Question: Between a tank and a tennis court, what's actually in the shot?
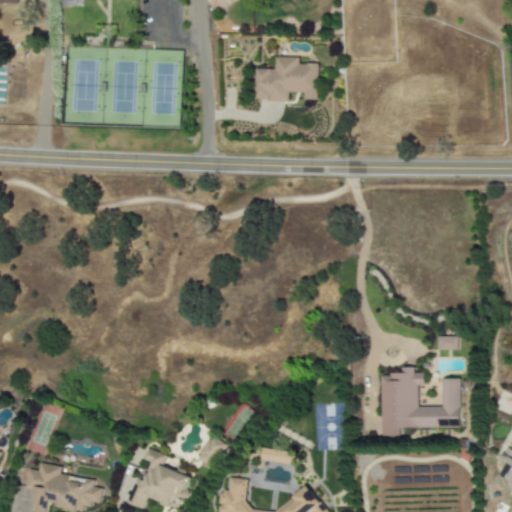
tennis court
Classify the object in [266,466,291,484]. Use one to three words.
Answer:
swimming pool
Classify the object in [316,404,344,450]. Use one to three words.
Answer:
basketball court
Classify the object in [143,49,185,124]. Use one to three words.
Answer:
tennis court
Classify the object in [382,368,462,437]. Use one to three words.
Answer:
house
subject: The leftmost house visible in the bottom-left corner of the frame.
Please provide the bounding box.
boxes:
[16,461,106,512]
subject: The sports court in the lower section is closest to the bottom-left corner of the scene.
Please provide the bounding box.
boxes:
[26,404,64,455]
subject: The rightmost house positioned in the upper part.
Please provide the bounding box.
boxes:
[256,56,319,101]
